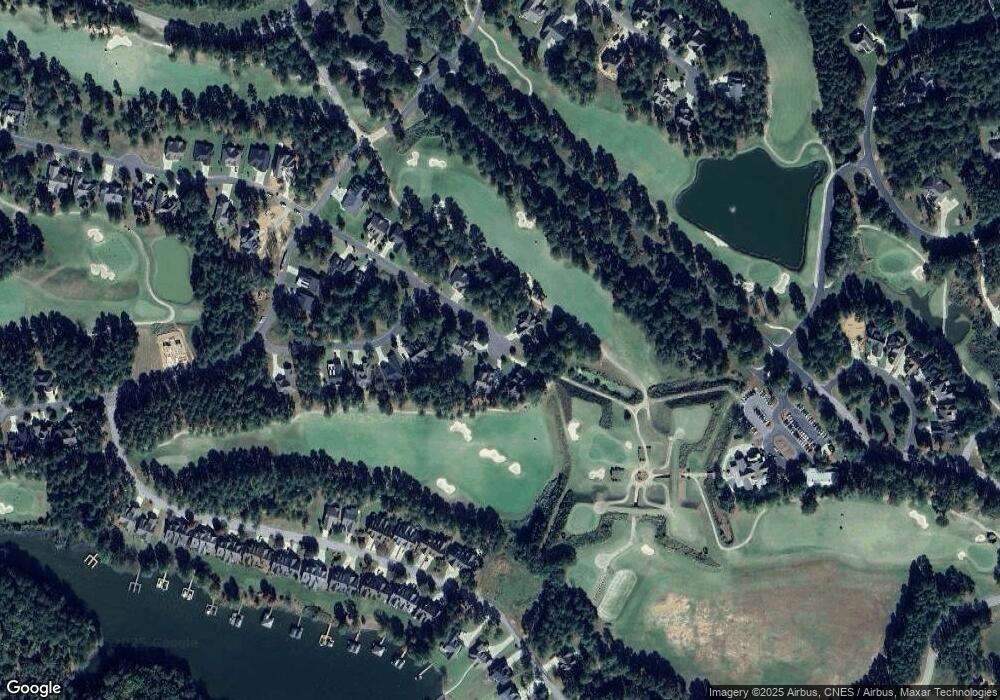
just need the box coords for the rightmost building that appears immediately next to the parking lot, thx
[808,471,833,486]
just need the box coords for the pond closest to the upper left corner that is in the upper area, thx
[152,238,190,301]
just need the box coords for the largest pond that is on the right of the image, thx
[679,150,825,268]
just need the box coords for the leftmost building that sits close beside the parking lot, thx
[728,452,774,488]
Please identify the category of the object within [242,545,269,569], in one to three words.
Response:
house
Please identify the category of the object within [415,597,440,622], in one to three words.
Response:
house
